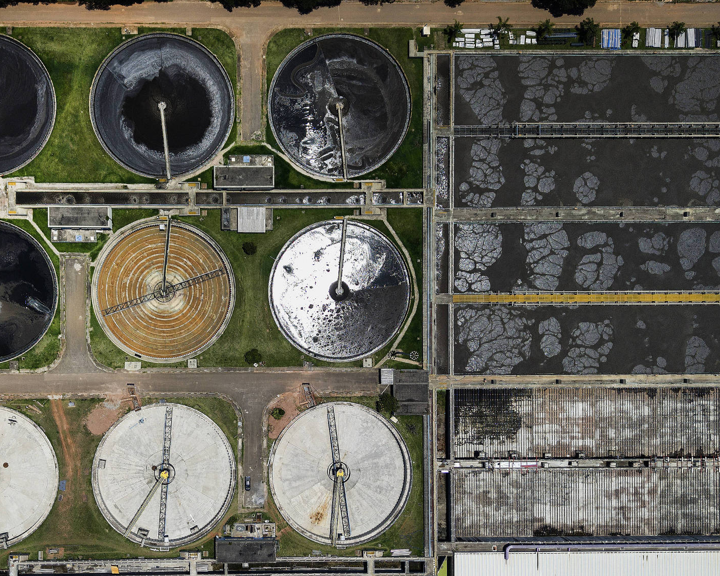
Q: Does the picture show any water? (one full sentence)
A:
Yes, the picture does contain water.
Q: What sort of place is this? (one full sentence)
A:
The area seen from above is an industrial area.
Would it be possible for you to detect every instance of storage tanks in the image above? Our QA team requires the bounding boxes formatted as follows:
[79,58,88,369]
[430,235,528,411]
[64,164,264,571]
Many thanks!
[268,402,412,550]
[0,405,58,553]
[92,403,236,555]
[268,216,411,363]
[268,32,412,181]
[0,221,58,363]
[91,216,236,364]
[0,33,56,176]
[89,32,235,181]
